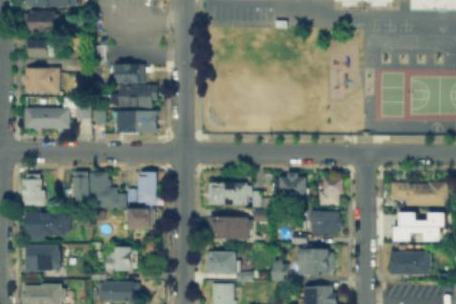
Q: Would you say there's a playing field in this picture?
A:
Yes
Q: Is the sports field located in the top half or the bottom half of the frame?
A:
top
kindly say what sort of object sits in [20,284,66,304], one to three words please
house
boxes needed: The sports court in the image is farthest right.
[376,70,456,120]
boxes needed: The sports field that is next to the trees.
[202,27,366,132]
